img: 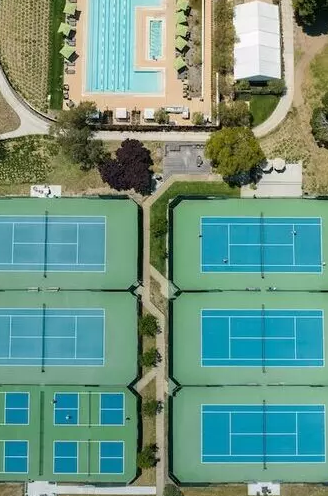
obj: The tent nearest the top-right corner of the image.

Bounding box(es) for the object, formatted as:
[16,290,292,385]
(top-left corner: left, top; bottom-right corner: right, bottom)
[231,0,281,84]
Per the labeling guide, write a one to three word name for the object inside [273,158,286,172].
umbrella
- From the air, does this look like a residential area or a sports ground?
sports ground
